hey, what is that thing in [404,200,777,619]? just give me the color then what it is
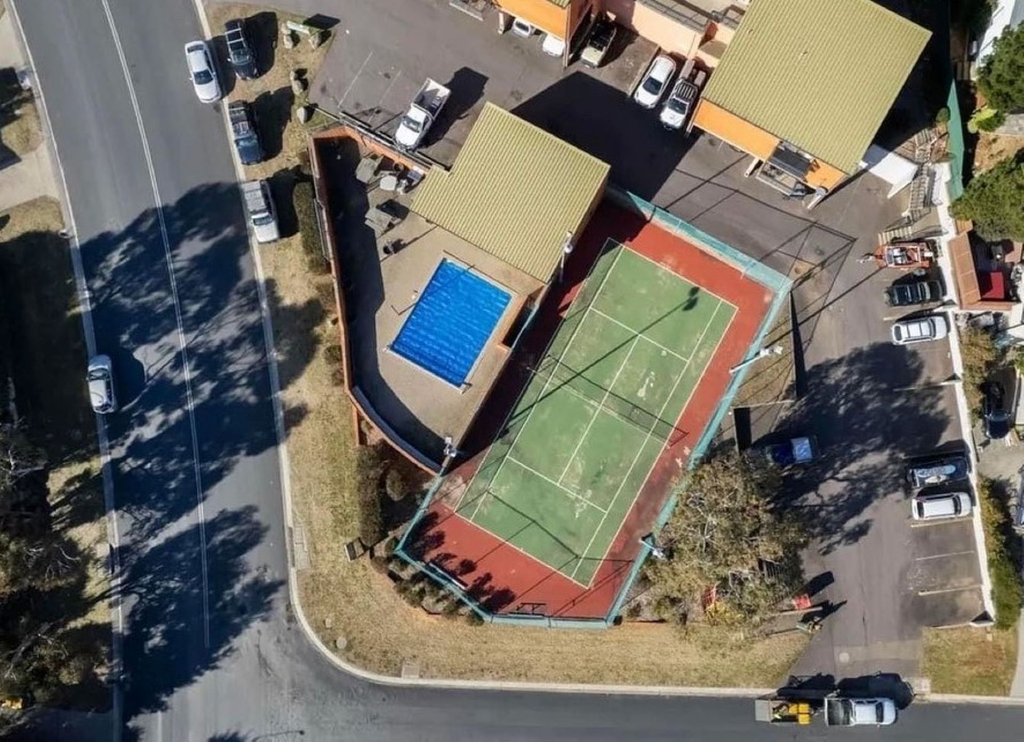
green tennis court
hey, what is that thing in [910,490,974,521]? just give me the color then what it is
white car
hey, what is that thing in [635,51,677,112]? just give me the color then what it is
white car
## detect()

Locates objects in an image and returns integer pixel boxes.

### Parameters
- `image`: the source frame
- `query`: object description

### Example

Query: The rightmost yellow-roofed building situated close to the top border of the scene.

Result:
[690,0,932,204]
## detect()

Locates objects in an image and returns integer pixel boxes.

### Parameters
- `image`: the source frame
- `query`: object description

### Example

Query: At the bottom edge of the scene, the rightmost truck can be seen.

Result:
[825,697,898,732]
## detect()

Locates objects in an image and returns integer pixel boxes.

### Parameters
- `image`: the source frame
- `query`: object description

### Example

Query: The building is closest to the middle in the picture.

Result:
[410,103,612,288]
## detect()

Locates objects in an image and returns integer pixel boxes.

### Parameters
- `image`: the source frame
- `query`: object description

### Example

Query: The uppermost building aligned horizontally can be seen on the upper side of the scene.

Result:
[484,0,594,46]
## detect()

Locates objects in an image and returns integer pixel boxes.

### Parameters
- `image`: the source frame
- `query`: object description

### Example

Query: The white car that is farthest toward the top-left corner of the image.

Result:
[184,38,225,106]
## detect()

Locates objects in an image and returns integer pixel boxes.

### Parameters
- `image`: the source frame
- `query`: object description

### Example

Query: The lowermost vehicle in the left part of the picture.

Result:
[84,354,122,415]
